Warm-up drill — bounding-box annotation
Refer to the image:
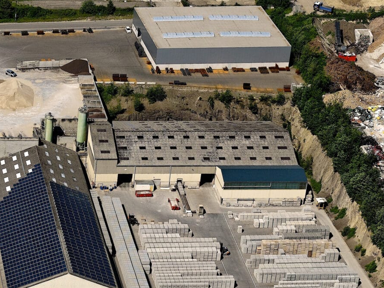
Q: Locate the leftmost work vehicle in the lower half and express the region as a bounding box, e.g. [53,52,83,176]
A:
[127,212,141,225]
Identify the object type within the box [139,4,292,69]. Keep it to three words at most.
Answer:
building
